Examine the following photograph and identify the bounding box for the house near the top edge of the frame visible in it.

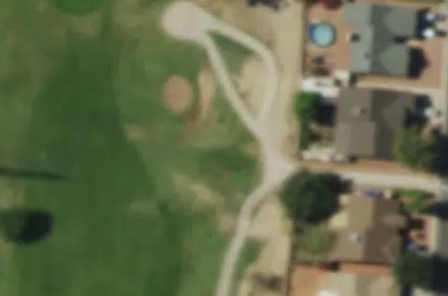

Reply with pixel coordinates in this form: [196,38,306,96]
[341,2,417,75]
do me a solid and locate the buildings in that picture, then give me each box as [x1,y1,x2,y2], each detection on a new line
[332,196,405,263]
[338,90,415,158]
[317,272,398,296]
[341,2,417,75]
